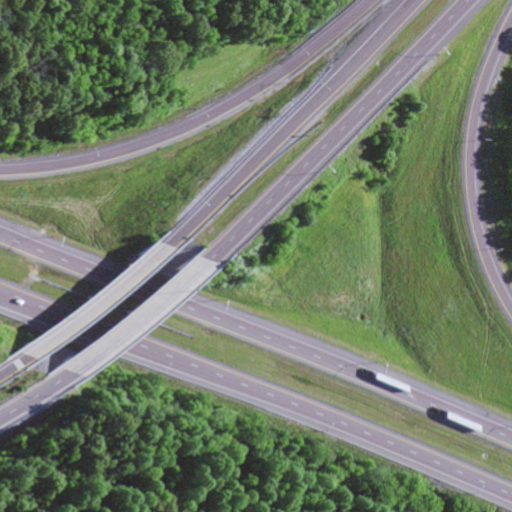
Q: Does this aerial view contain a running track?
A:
No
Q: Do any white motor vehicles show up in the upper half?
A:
No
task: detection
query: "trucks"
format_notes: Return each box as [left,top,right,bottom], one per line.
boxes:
[364,369,410,392]
[436,408,482,431]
